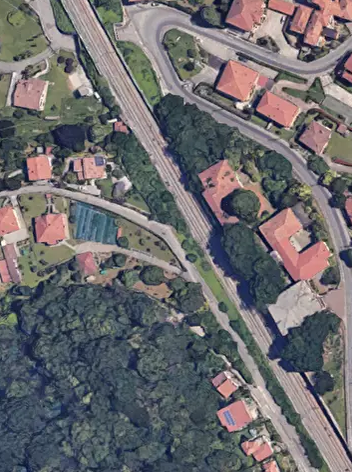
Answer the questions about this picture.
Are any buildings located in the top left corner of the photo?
Yes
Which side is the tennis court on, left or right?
left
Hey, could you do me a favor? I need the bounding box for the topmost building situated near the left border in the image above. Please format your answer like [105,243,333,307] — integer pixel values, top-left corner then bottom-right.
[14,78,49,110]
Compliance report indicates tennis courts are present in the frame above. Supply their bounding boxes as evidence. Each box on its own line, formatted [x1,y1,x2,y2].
[74,202,117,245]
